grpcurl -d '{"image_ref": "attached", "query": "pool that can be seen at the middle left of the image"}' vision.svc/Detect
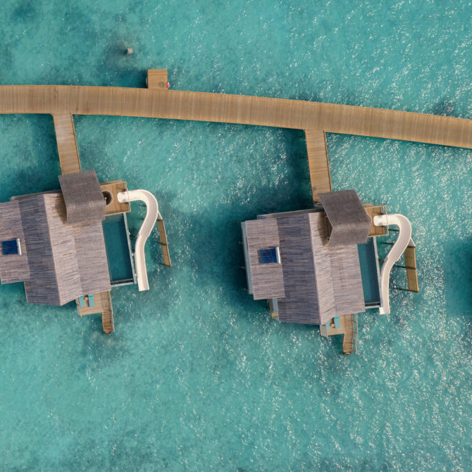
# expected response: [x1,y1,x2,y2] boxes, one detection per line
[101,212,136,286]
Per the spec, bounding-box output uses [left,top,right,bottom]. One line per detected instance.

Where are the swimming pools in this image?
[359,238,382,307]
[101,212,136,286]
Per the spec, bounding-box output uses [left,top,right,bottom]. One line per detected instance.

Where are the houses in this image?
[0,169,131,333]
[234,190,389,355]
